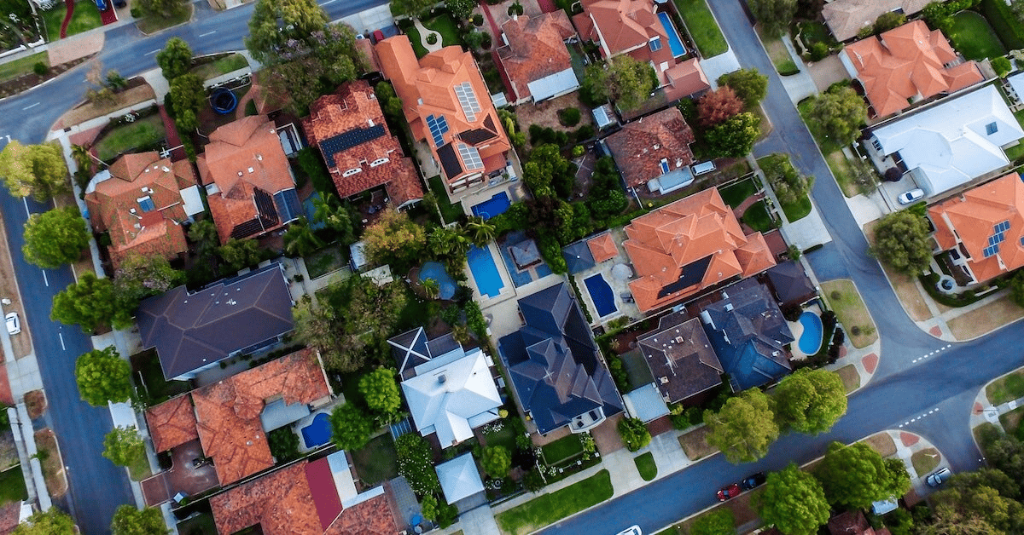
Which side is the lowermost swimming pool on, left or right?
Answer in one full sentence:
It is on the left.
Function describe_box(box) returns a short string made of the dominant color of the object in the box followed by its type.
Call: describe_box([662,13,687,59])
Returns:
blue swimming pool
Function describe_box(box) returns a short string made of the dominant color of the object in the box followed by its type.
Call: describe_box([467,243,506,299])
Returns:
blue swimming pool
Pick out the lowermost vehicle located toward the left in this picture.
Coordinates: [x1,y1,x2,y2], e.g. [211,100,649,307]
[5,310,21,335]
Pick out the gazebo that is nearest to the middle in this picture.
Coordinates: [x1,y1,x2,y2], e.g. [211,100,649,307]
[509,239,540,270]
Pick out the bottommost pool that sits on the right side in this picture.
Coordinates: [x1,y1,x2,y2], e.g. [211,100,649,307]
[797,310,829,356]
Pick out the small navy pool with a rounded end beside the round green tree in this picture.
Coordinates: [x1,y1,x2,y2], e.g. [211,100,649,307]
[299,411,338,451]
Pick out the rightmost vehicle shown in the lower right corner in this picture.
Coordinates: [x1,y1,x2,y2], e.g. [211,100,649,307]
[925,467,952,486]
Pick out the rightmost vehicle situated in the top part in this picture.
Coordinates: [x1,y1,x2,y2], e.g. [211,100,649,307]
[897,189,924,204]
